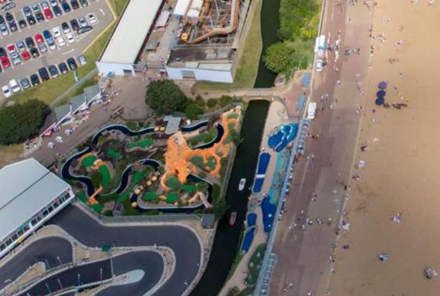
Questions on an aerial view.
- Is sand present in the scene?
Yes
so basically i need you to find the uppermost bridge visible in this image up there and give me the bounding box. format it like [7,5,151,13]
[236,81,281,103]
